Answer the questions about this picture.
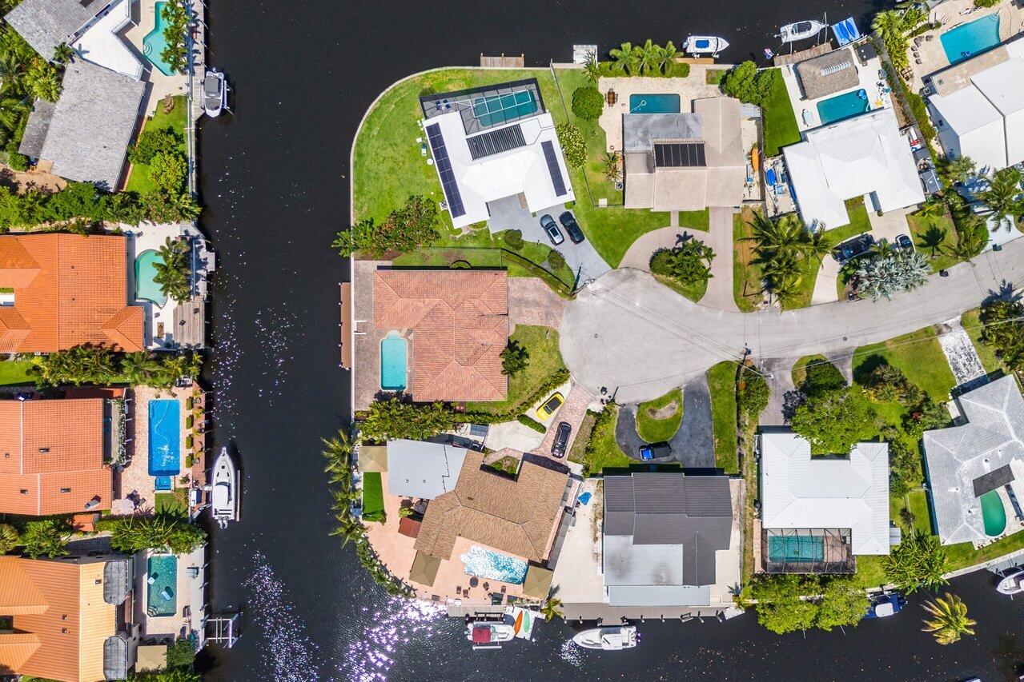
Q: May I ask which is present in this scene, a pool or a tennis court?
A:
pool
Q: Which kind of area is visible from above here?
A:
residential area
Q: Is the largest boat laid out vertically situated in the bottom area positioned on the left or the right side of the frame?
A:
left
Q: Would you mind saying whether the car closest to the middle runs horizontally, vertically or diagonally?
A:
diagonally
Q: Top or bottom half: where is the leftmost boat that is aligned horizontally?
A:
bottom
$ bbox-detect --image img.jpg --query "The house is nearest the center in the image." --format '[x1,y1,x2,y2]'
[374,270,509,401]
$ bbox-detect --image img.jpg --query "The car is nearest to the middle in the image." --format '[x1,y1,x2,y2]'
[536,390,565,422]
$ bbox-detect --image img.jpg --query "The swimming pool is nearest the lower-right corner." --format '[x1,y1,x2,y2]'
[981,490,1008,538]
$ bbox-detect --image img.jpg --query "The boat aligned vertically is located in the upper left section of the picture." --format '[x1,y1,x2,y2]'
[203,67,223,117]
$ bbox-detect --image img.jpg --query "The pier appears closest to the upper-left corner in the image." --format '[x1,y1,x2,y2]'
[192,0,213,120]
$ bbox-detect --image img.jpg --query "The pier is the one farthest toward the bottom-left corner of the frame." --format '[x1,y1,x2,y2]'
[191,549,212,653]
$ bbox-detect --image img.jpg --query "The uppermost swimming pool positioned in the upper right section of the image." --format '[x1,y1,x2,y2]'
[939,12,1003,66]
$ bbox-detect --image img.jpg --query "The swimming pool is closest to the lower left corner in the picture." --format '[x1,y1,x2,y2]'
[146,555,178,619]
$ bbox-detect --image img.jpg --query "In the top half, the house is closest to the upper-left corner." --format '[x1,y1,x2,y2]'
[5,0,152,194]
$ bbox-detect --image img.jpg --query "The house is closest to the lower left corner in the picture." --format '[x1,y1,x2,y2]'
[0,549,150,682]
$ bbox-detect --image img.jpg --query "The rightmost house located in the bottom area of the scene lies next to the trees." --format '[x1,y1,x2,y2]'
[916,374,1024,546]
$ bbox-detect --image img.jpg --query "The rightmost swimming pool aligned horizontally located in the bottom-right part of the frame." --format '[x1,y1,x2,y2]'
[768,536,825,564]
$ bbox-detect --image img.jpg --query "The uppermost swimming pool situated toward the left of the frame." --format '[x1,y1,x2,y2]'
[141,0,181,77]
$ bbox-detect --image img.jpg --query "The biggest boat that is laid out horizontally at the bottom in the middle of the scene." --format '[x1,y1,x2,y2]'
[573,626,641,650]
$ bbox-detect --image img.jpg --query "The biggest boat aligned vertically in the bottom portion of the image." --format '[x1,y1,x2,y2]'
[212,448,235,526]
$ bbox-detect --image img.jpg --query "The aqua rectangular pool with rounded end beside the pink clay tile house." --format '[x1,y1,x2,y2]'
[379,330,409,391]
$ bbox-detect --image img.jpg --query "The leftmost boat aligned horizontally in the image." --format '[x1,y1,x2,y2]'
[463,625,515,646]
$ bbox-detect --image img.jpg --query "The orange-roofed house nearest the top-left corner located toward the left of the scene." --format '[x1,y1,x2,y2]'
[0,233,150,353]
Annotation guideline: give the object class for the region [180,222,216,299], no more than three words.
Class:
pier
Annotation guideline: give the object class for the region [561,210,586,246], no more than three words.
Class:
car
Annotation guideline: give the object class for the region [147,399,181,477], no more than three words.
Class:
swimming pool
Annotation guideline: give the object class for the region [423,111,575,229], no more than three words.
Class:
house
